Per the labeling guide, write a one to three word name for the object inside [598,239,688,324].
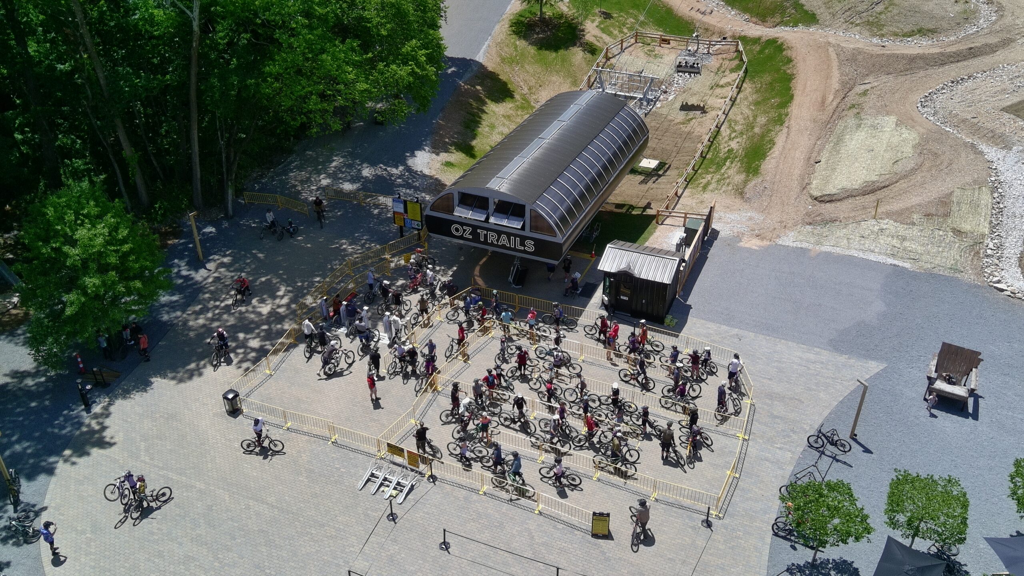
shed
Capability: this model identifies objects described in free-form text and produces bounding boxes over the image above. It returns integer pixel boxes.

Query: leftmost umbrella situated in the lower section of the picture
[867,536,946,576]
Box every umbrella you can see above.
[867,536,946,576]
[982,537,1024,576]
